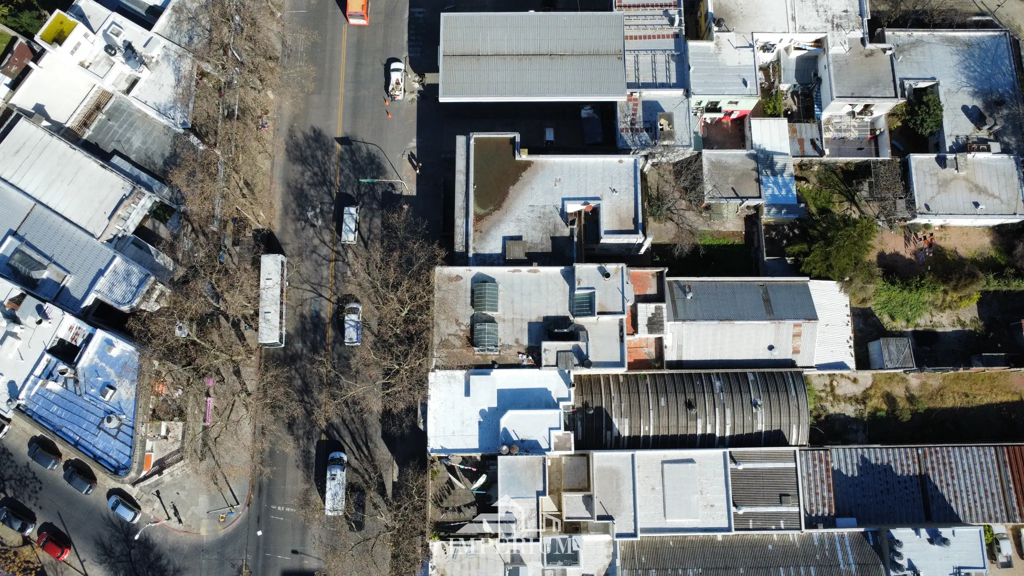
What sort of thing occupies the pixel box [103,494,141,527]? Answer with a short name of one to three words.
car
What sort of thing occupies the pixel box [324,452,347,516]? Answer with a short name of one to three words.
vehicle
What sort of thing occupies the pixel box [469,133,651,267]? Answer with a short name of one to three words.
building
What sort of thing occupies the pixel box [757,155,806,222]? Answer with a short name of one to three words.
shed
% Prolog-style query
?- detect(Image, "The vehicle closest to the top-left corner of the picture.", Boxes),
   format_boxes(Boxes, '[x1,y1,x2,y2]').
[346,0,371,25]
